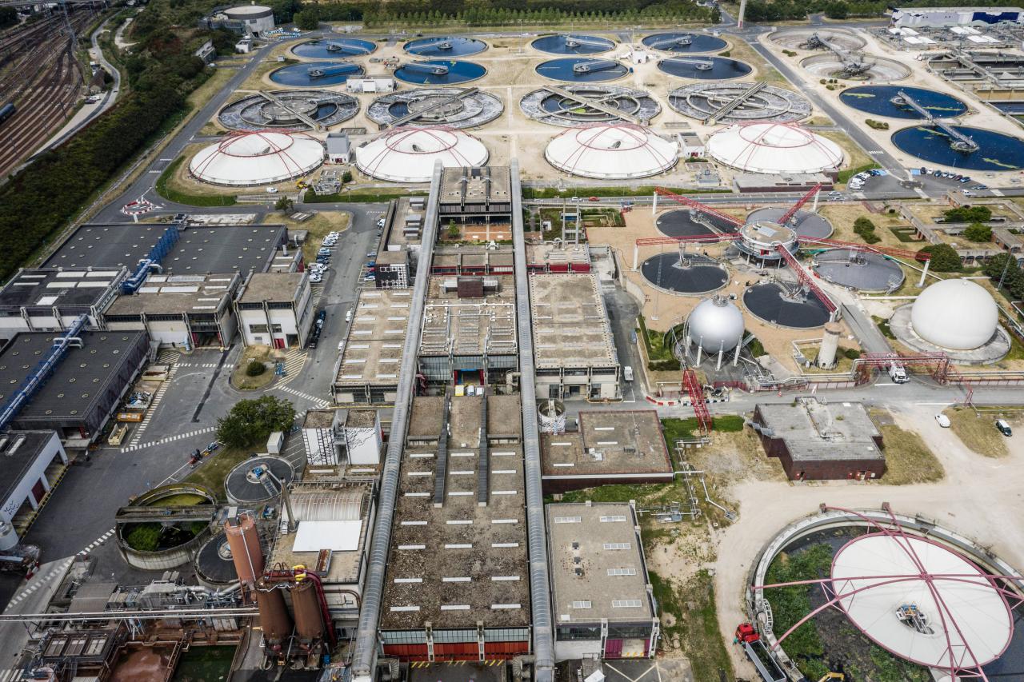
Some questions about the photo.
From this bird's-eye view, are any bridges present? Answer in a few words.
Yes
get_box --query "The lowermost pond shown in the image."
[741,501,1024,682]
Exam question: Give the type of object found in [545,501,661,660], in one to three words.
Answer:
building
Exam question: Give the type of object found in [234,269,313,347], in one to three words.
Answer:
house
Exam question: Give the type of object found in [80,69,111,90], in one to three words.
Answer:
house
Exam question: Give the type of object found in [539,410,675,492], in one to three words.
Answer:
building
